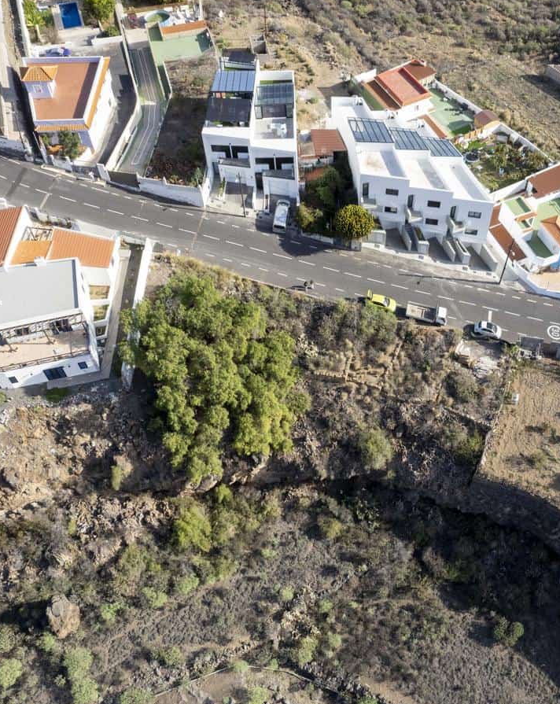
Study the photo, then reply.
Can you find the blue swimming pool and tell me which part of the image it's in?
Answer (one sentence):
The blue swimming pool appears toward the top left of the photo.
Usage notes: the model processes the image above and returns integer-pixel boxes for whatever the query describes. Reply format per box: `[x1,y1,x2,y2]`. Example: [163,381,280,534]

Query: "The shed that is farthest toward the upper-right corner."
[474,110,500,136]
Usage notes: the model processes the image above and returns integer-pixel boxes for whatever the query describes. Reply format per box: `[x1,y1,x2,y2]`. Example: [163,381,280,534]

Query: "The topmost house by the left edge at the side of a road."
[23,56,117,159]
